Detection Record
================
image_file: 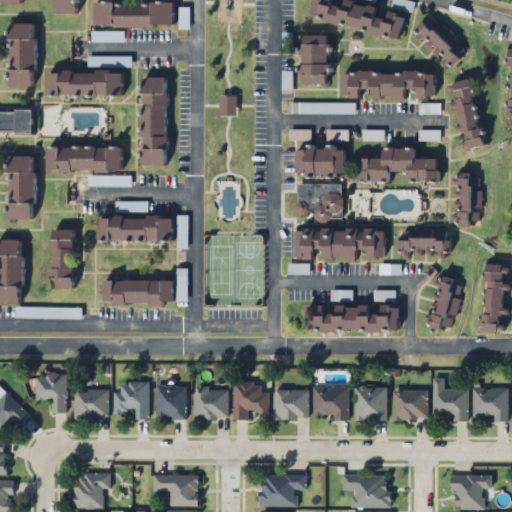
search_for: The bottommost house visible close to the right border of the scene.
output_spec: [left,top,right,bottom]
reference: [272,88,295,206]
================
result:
[451,475,492,510]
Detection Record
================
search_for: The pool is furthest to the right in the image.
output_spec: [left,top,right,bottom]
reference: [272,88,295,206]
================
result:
[496,492,512,508]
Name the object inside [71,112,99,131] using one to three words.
swimming pool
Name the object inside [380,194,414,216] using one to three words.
swimming pool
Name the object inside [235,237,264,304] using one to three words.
basketball court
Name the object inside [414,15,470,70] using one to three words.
building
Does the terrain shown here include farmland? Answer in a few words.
No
